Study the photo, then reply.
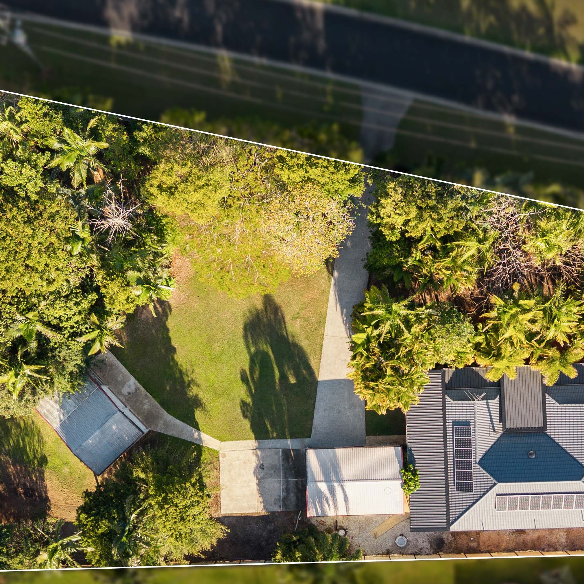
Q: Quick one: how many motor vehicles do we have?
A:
0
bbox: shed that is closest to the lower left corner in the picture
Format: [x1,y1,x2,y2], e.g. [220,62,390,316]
[36,365,149,474]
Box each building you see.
[406,363,584,534]
[36,365,149,474]
[306,444,405,517]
